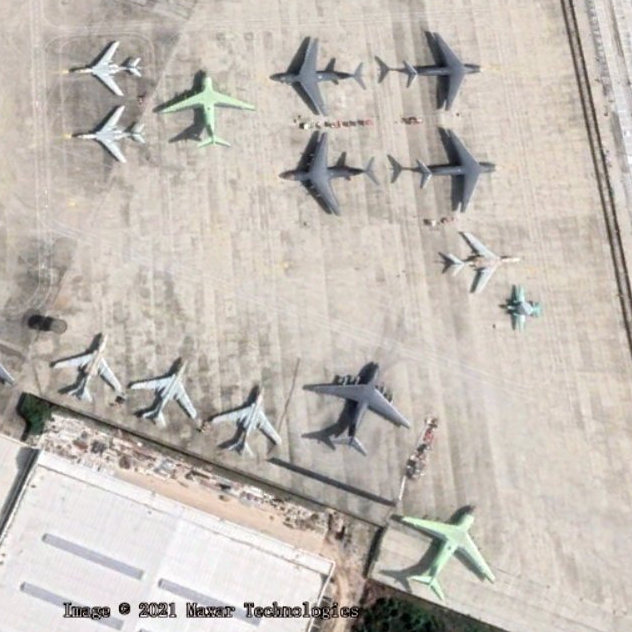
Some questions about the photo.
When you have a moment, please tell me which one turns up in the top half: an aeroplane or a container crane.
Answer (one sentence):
There is an aeroplane in the top half.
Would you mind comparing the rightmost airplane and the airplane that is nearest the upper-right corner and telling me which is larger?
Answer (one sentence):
The airplane that is nearest the upper-right corner covers a greater area than the rightmost airplane.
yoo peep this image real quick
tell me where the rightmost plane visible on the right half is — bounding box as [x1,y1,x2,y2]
[507,287,543,332]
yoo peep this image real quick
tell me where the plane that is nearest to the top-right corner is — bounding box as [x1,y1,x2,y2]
[402,32,482,109]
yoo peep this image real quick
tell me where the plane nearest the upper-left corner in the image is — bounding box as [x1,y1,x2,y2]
[74,41,142,95]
